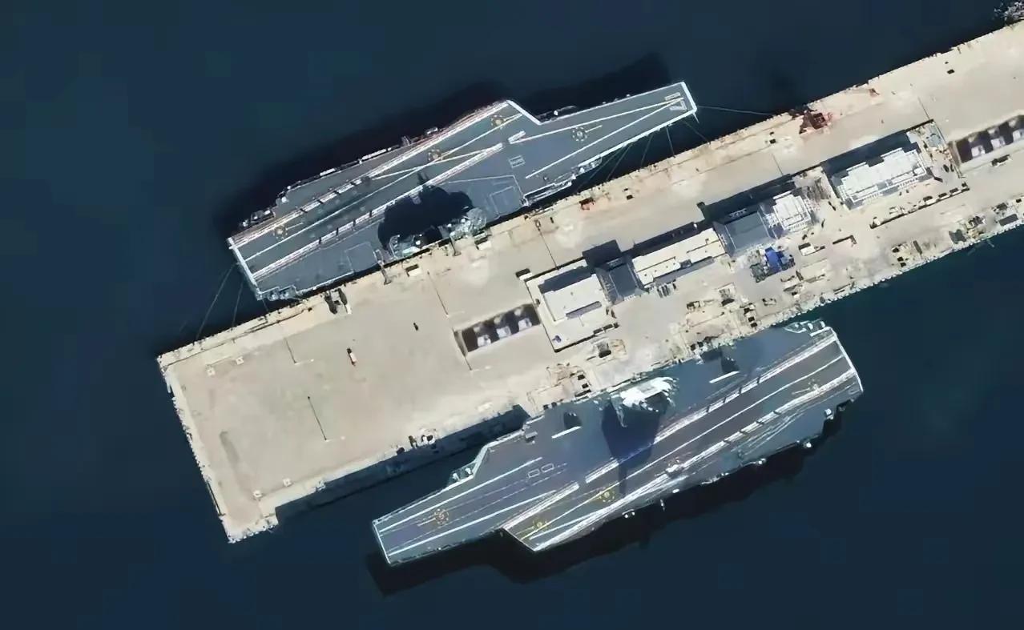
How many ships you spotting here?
two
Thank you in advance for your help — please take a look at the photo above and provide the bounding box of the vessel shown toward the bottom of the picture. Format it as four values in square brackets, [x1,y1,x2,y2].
[373,320,863,567]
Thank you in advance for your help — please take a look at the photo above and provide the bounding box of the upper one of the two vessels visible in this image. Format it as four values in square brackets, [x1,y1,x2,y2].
[230,82,699,300]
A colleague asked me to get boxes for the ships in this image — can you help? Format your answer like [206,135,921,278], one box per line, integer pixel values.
[230,82,699,300]
[373,320,863,567]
